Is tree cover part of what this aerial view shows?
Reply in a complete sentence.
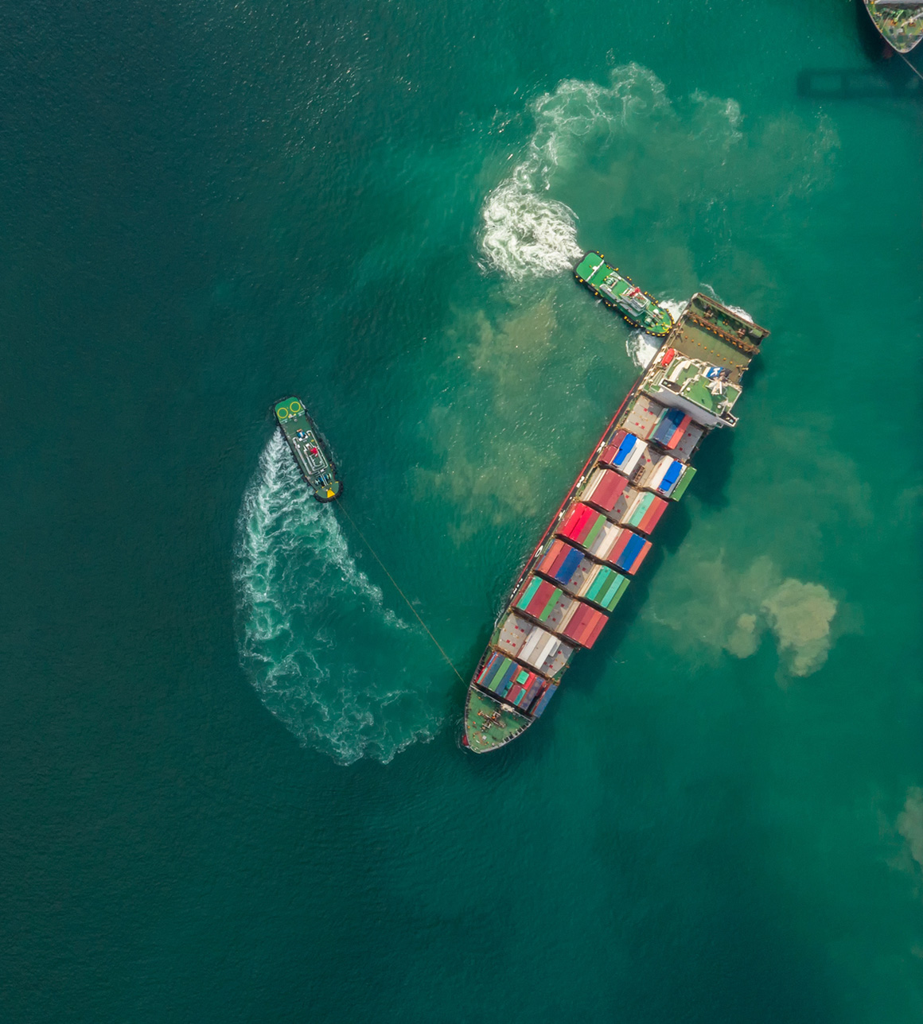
No, tree cover can't be seen anywhere here.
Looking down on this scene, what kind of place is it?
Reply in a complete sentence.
The picture captures a port.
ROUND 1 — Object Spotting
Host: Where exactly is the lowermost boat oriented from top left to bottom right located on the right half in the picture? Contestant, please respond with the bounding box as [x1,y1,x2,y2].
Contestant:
[571,252,672,335]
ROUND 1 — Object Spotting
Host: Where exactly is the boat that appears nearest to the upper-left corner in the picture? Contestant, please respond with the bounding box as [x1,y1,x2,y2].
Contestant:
[274,396,343,503]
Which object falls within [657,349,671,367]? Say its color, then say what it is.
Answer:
red boat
